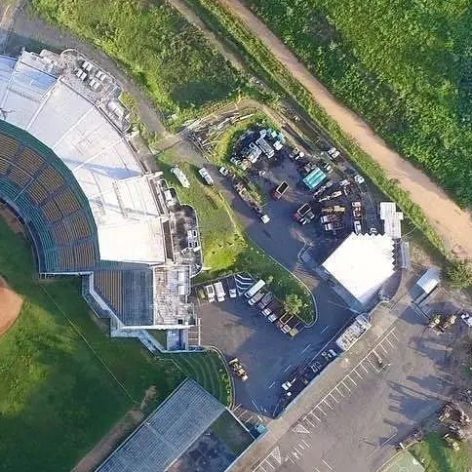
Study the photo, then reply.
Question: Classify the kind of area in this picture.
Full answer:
The area seen from above is a sports ground.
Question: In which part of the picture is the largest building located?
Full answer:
The largest building is located in the right region of the scene.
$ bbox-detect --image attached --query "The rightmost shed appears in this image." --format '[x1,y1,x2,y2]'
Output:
[411,266,441,294]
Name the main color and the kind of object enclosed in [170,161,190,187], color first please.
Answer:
white bus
